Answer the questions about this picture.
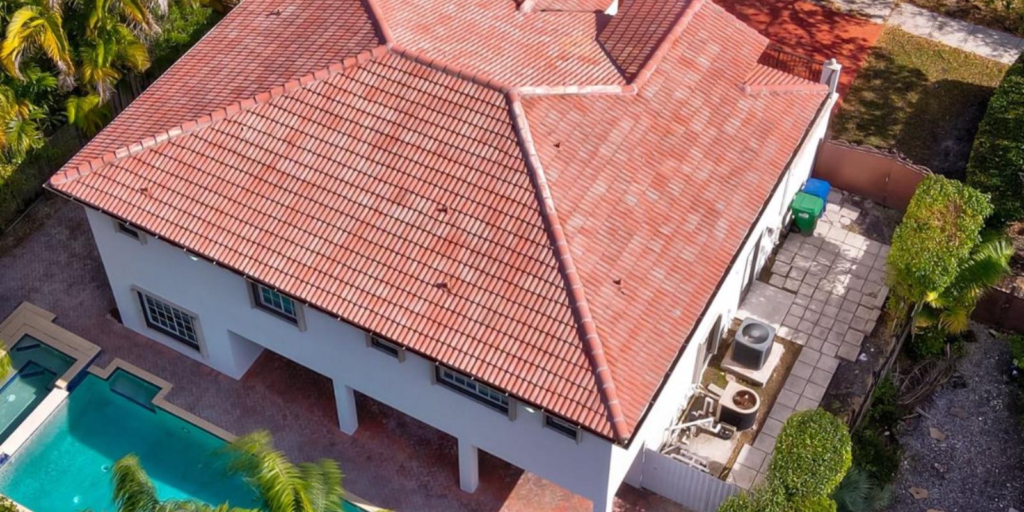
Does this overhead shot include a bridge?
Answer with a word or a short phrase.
No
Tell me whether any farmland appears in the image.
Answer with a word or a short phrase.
No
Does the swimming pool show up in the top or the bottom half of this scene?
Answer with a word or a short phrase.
bottom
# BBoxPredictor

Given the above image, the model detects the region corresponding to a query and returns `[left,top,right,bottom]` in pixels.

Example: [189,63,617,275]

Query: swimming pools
[0,359,390,512]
